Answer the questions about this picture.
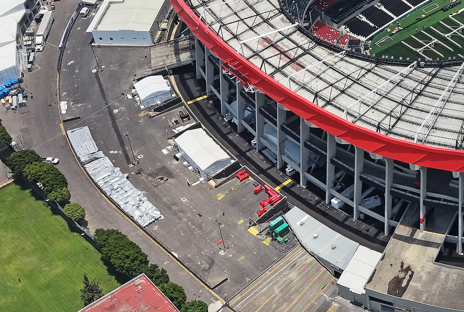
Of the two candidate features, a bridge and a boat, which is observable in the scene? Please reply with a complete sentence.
The one in the frame is a bridge.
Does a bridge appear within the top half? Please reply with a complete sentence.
Yes, you'll find a bridge within the top half.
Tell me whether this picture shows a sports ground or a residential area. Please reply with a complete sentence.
The picture captures a sports ground.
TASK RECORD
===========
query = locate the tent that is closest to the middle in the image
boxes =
[175,128,230,177]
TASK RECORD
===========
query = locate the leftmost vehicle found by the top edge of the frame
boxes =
[35,7,51,45]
